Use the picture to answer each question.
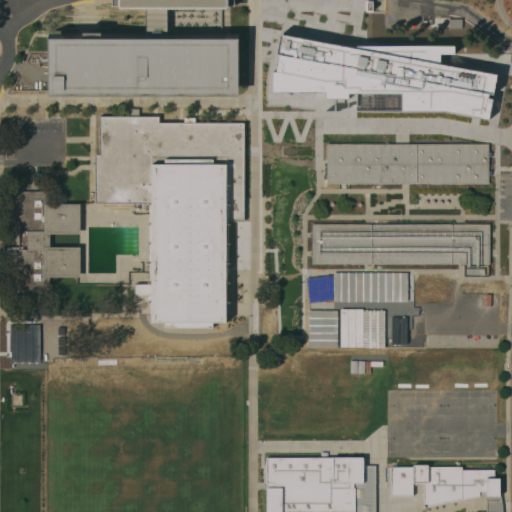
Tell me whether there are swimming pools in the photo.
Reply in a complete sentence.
No, I find no swimming pool anywhere in the image.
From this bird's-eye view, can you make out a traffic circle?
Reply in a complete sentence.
No, no traffic circle is visible in the scene.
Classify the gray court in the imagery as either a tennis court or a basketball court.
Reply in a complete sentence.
I'd identify the gray court as a basketball court.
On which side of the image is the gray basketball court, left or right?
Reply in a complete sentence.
The gray basketball court appears in the right half of the scene.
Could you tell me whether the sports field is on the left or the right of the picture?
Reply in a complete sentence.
The sports field sits on the left side.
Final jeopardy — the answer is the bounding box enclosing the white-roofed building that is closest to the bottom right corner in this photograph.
[392,464,503,512]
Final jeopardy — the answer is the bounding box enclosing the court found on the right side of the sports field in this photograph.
[388,390,497,458]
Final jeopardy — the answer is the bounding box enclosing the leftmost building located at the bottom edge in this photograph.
[267,452,377,512]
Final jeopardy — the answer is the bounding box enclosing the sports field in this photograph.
[48,357,249,512]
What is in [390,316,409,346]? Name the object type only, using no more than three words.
barn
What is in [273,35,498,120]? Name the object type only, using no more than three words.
building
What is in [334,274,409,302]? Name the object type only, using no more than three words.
building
